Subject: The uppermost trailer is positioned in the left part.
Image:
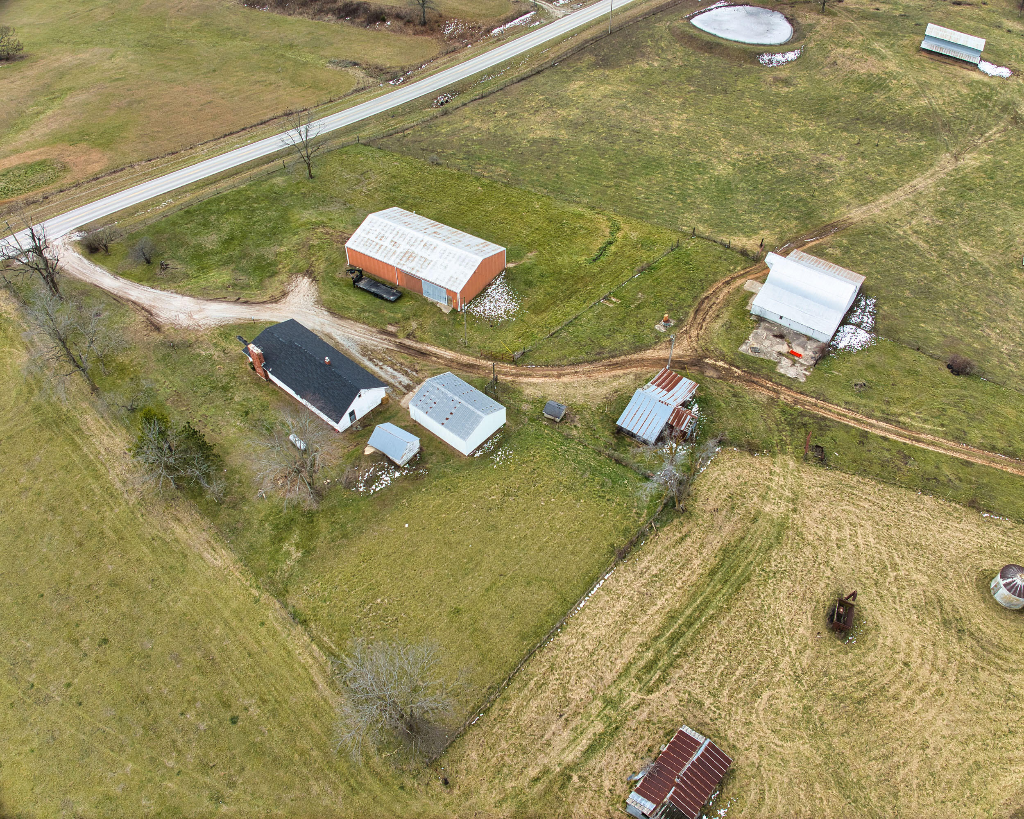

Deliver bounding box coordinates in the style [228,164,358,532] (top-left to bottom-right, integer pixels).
[348,268,403,303]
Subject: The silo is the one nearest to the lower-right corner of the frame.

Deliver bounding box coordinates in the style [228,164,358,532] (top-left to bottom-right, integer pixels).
[990,563,1024,609]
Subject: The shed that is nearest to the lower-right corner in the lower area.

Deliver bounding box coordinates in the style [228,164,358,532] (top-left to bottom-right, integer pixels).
[626,725,730,819]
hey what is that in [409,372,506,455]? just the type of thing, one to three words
building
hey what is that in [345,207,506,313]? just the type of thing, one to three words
barn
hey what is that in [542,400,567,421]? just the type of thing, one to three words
shed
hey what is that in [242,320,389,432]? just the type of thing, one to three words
house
